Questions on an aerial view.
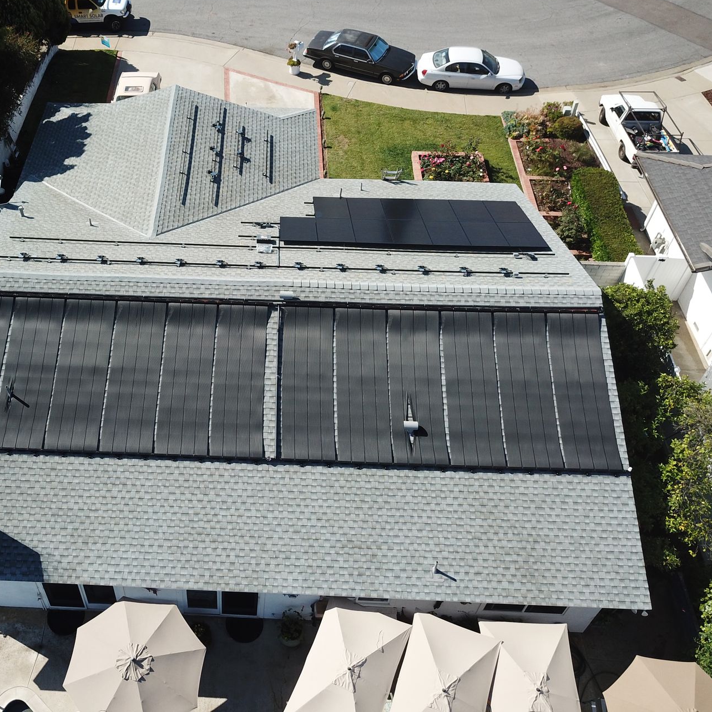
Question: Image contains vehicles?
Yes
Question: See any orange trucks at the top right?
No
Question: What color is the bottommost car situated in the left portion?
white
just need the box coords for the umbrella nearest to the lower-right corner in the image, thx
[603,655,712,712]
